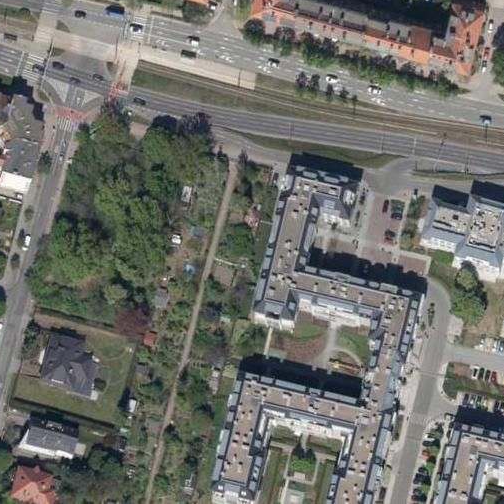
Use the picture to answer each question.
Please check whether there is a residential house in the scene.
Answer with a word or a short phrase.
Yes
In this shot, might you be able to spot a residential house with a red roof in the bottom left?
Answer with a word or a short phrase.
Yes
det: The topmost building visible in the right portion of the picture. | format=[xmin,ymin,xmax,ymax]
[252,0,487,87]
